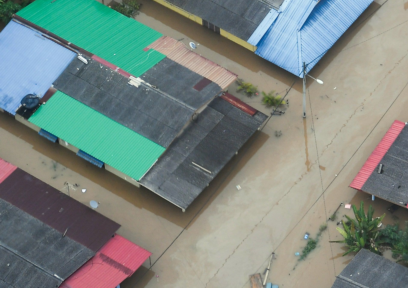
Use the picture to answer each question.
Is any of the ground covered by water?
Yes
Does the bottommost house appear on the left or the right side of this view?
right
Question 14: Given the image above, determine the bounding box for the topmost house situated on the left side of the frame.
[0,0,268,220]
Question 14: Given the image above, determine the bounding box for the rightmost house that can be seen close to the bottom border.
[328,248,408,288]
